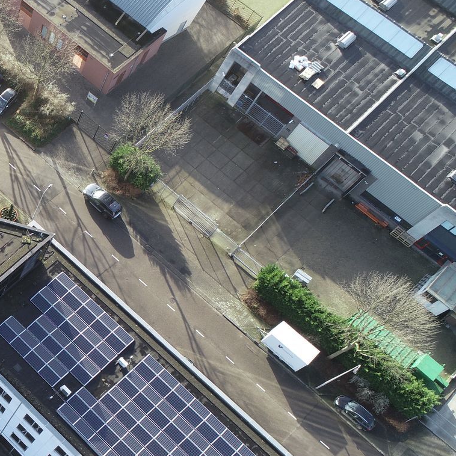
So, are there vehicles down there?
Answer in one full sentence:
Yes, there's a vehicle down there.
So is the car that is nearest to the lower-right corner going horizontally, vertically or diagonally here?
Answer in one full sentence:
The car that is nearest to the lower-right corner runs diagonally in the image.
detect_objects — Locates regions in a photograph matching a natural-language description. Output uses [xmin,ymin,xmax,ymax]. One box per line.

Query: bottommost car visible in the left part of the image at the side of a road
[84,183,124,218]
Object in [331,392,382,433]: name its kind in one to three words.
car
